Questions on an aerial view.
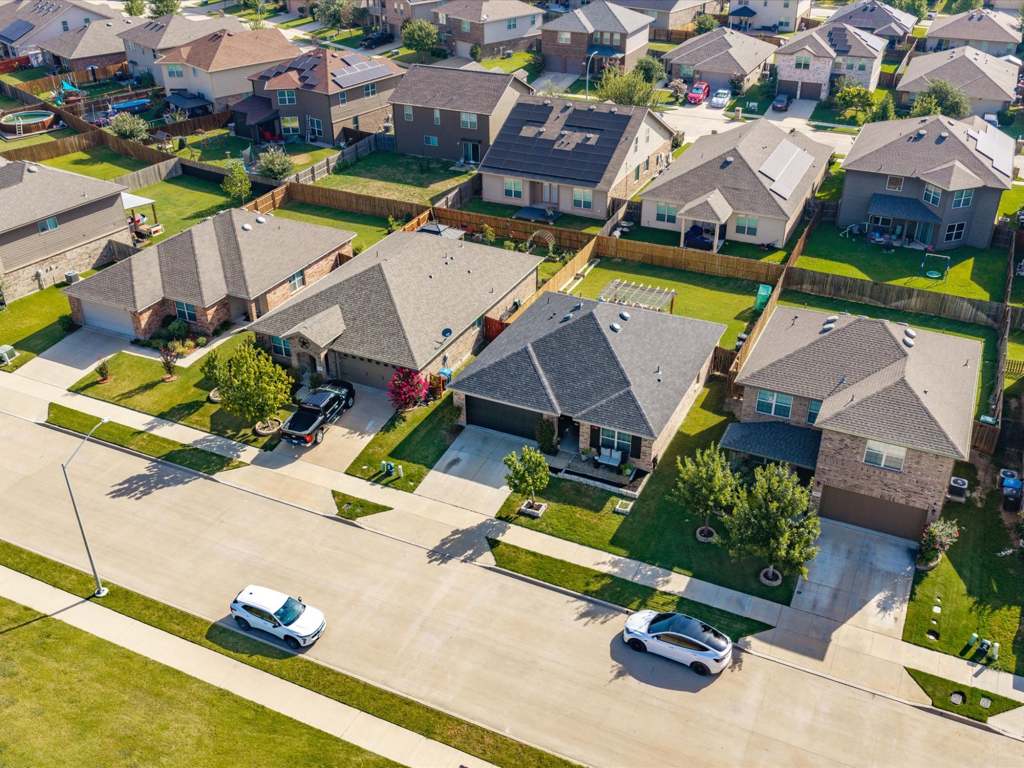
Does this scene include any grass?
Yes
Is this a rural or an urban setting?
urban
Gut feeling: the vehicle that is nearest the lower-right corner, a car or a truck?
car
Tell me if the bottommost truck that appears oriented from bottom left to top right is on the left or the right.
left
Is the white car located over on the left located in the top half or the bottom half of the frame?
bottom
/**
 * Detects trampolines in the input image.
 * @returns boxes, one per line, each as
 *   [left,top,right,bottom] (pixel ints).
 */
[239,135,280,169]
[75,97,112,126]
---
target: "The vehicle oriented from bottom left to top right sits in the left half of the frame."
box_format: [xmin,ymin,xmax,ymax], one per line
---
[278,380,361,446]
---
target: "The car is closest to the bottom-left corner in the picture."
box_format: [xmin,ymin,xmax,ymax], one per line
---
[230,584,325,649]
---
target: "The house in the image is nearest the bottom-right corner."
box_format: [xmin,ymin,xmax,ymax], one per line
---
[720,302,985,542]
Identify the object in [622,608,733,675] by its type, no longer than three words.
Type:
car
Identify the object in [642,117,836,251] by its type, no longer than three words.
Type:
house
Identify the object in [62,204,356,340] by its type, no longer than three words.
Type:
house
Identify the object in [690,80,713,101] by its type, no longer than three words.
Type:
car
